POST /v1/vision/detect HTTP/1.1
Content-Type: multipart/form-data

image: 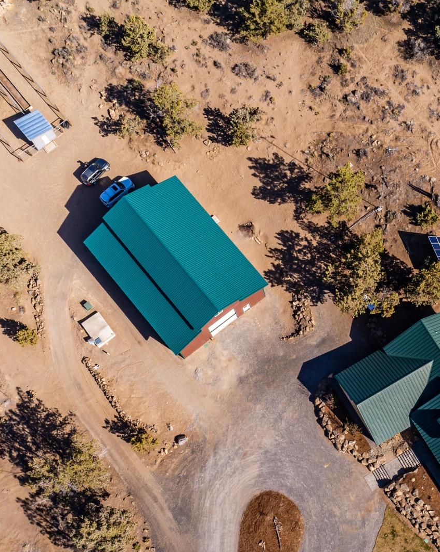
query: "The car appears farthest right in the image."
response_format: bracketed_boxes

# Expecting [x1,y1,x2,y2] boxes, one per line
[100,175,135,206]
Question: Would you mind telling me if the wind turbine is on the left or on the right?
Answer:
right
